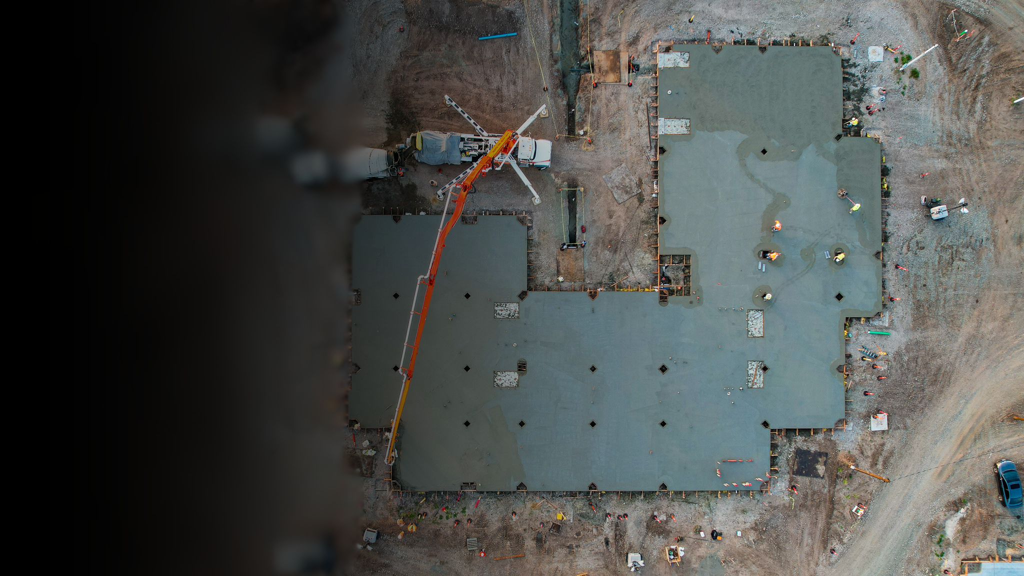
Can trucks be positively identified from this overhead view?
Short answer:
Yes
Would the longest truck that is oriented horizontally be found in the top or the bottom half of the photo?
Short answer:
top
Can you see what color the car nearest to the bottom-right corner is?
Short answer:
blue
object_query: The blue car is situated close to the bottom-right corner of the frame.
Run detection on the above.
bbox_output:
[995,458,1024,512]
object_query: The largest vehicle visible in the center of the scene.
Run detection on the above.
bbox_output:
[383,96,554,465]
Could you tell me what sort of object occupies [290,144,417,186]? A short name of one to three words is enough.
truck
